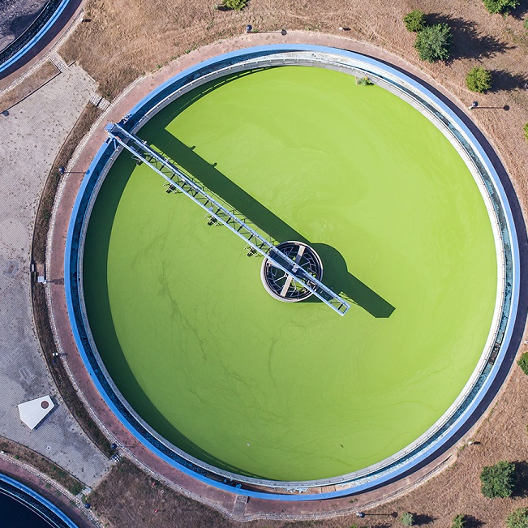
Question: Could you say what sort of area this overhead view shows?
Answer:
industrial area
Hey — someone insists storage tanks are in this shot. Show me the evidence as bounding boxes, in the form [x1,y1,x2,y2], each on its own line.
[0,0,71,74]
[0,473,79,528]
[65,44,521,501]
